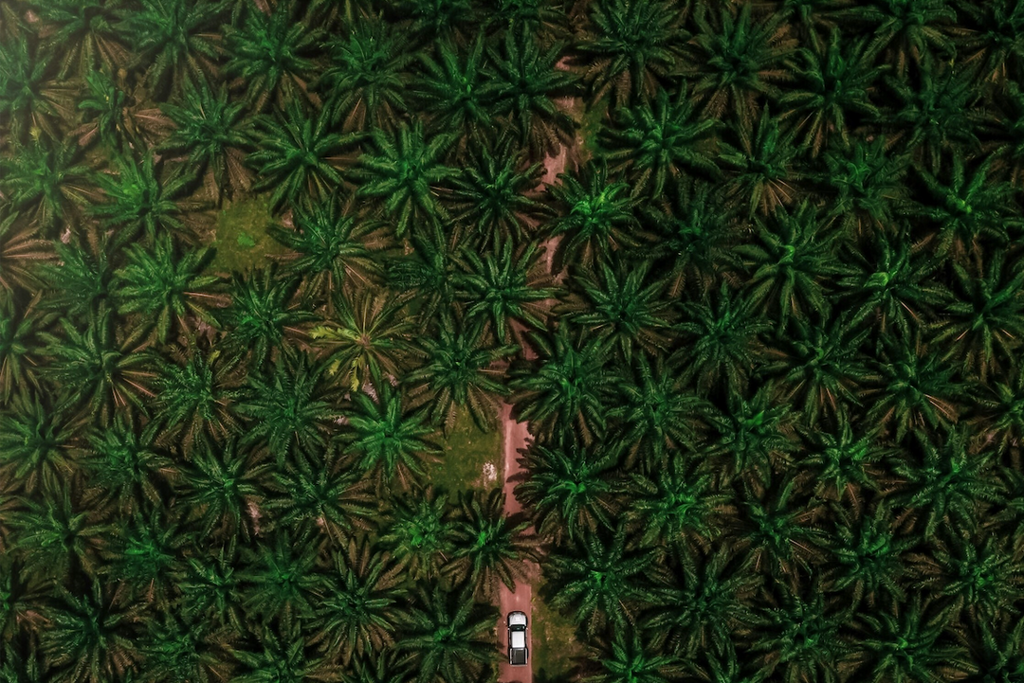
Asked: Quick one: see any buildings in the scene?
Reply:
No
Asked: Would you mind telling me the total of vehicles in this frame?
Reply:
one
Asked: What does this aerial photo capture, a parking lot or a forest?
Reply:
forest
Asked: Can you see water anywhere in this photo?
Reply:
No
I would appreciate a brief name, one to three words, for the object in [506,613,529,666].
truck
